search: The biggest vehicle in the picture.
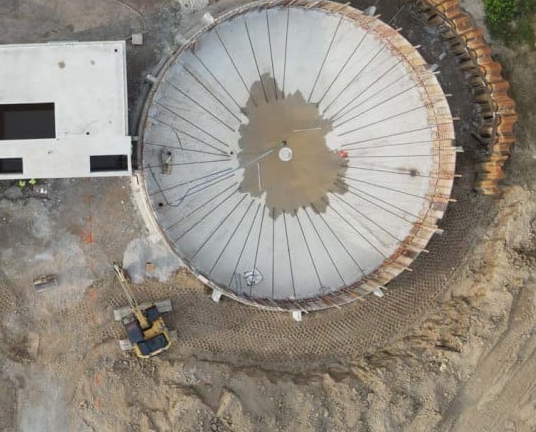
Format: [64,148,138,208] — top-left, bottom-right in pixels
[113,261,177,358]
